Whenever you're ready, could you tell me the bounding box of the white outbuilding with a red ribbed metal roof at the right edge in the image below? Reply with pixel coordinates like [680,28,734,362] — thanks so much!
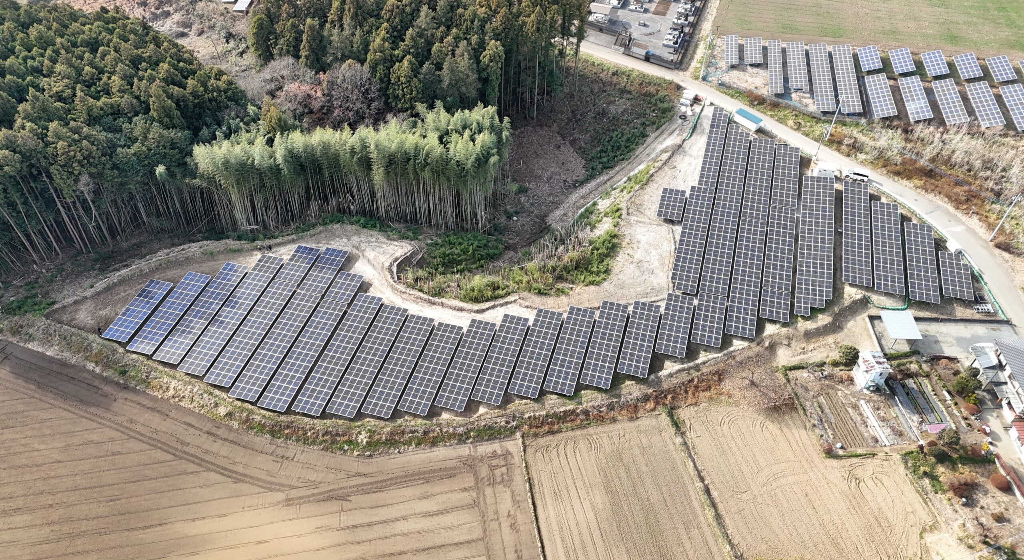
[995,422,1024,480]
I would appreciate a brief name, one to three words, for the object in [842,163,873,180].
vehicle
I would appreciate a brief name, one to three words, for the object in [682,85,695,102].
vehicle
